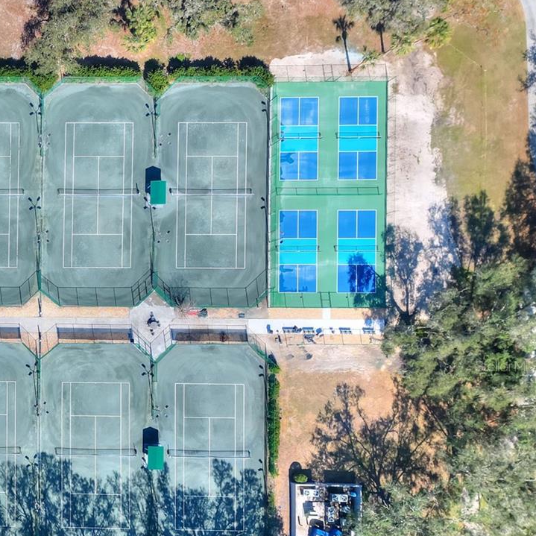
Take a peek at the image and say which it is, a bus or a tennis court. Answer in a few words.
tennis court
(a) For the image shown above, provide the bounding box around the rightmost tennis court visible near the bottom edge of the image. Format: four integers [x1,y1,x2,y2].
[151,344,266,536]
